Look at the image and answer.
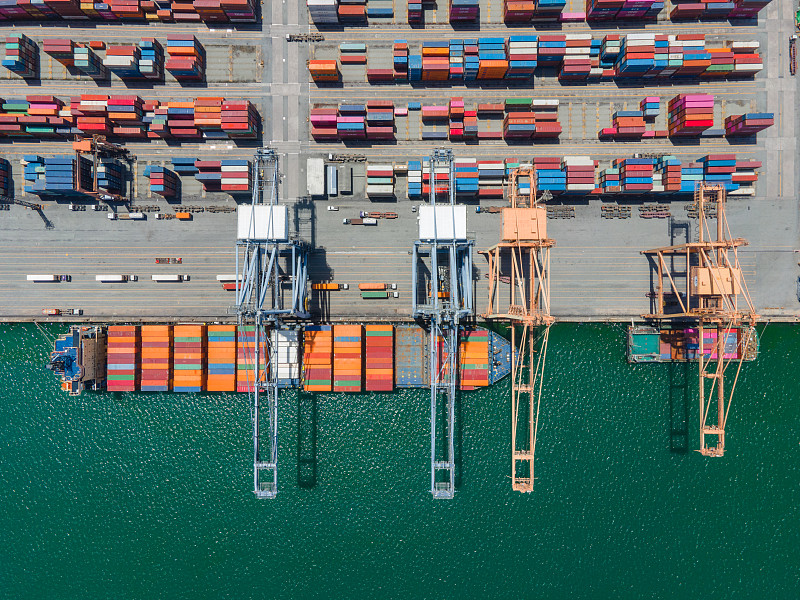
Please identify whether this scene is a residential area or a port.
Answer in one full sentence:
It's a port.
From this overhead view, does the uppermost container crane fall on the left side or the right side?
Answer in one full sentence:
The uppermost container crane sits on the left side.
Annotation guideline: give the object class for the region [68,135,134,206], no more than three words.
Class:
container crane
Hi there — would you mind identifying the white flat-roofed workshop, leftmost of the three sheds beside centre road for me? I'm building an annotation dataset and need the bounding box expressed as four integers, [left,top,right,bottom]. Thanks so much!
[307,158,326,198]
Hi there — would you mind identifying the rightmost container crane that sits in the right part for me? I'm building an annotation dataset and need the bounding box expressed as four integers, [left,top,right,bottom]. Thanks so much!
[638,187,755,456]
